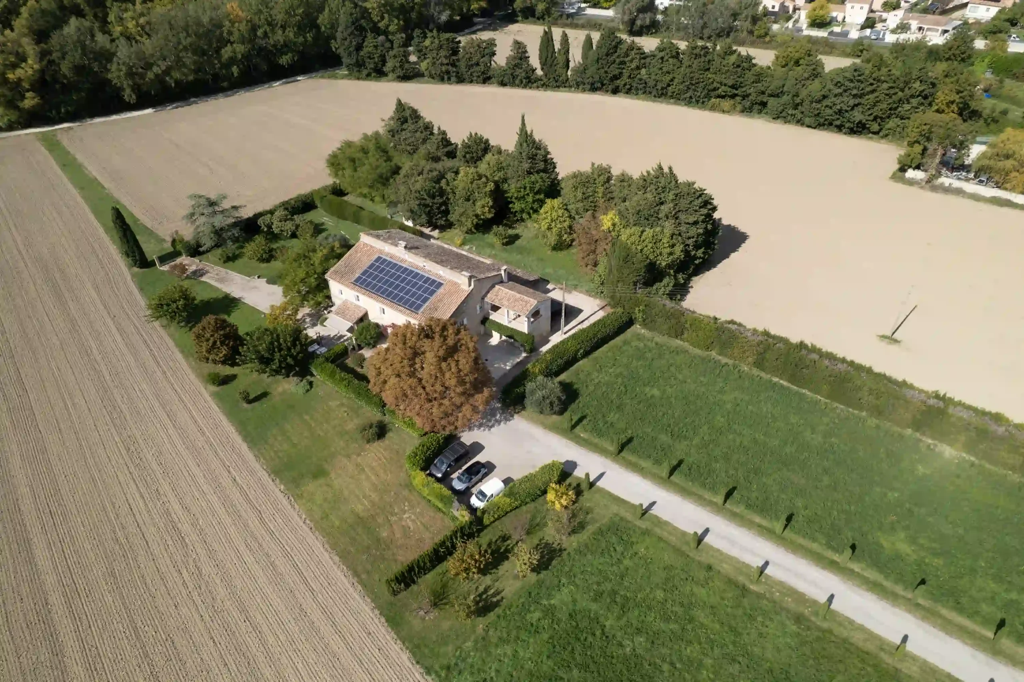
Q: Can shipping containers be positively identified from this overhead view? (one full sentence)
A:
No, the scene contains no shipping container.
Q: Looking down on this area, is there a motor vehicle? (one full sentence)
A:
Yes, a motor vehicle appears in the view.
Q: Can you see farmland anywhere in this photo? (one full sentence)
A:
Yes, the picture does contain farmland.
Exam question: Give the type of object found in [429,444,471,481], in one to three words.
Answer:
car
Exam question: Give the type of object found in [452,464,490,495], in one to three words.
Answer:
car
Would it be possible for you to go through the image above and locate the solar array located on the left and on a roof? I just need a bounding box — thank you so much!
[351,252,448,315]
